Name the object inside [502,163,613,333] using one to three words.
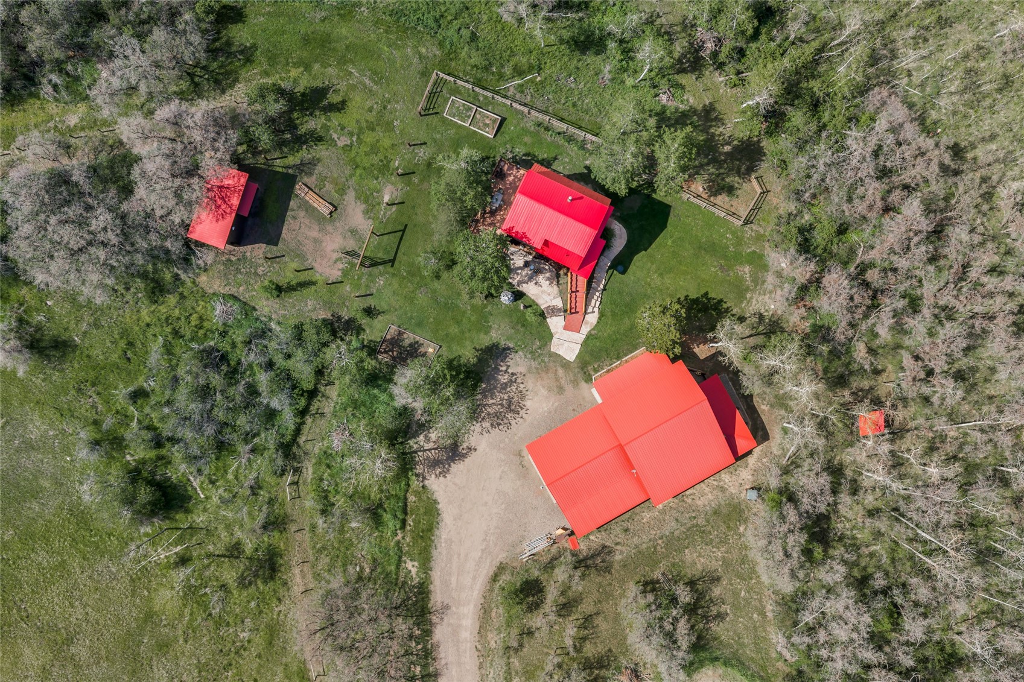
house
